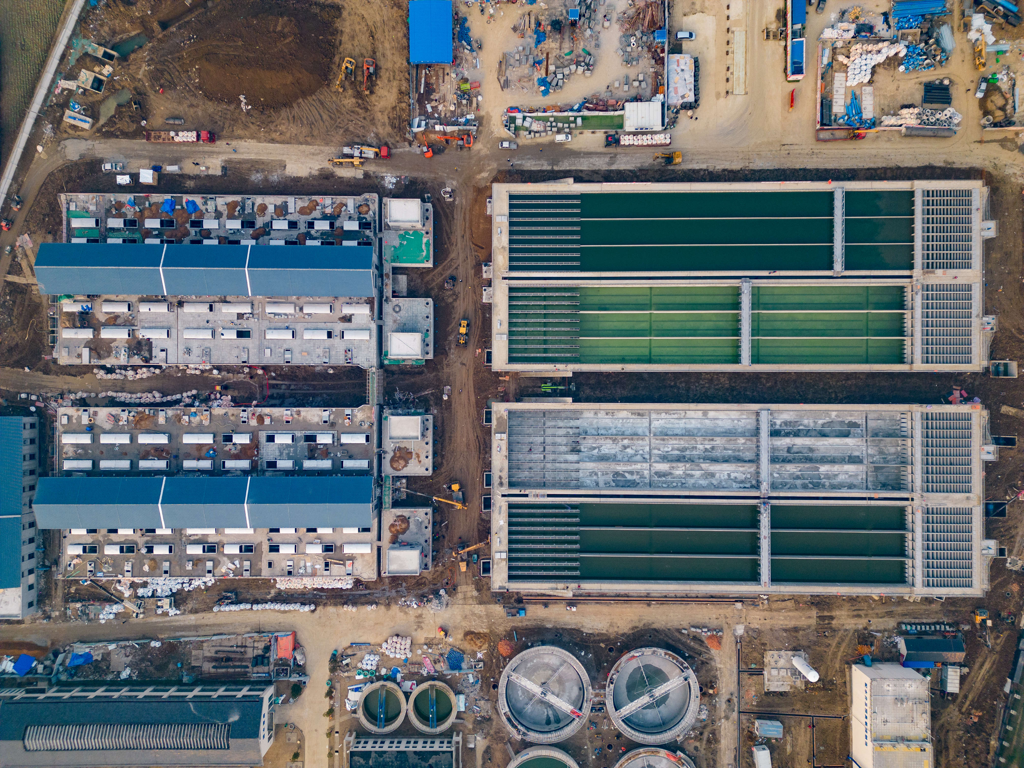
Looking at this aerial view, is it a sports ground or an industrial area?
industrial area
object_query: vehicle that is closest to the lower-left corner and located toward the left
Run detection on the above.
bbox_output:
[153,600,174,613]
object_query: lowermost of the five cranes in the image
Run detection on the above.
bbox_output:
[70,582,149,621]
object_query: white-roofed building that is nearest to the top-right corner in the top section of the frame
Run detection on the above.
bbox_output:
[622,102,661,136]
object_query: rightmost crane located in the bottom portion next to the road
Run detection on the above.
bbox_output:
[452,545,488,583]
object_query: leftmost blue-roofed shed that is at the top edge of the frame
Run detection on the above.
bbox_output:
[410,0,453,73]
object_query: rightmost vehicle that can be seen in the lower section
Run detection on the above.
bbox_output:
[973,608,992,642]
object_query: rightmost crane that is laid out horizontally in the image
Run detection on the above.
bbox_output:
[375,478,469,513]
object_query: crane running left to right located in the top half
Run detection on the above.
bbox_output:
[320,154,361,168]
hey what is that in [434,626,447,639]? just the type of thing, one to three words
vehicle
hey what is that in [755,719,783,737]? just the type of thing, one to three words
building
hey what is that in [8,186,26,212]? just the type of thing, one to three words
work vehicle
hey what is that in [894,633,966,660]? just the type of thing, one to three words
shed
